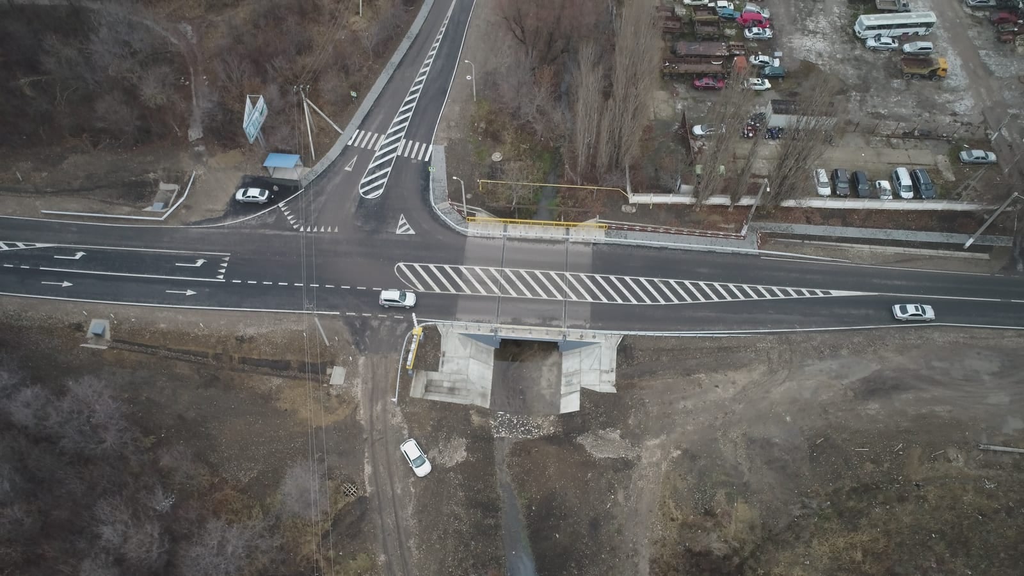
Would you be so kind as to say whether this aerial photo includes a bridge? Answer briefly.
Yes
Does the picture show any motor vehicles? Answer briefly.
Yes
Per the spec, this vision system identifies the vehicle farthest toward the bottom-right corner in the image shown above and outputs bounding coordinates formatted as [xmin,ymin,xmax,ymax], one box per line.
[891,304,935,323]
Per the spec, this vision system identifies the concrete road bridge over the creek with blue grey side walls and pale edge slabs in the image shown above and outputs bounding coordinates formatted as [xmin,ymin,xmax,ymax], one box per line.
[442,222,606,351]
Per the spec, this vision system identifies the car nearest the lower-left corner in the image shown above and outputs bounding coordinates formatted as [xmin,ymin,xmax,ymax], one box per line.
[402,436,432,479]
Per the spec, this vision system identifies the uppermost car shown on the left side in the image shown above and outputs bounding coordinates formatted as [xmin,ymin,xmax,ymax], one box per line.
[235,186,273,205]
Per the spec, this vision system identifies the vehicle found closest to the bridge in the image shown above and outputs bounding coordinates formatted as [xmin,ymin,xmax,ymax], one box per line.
[378,289,417,309]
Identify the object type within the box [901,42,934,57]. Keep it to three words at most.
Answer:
car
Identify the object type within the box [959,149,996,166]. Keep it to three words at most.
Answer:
car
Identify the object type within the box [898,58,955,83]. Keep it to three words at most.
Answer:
truck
